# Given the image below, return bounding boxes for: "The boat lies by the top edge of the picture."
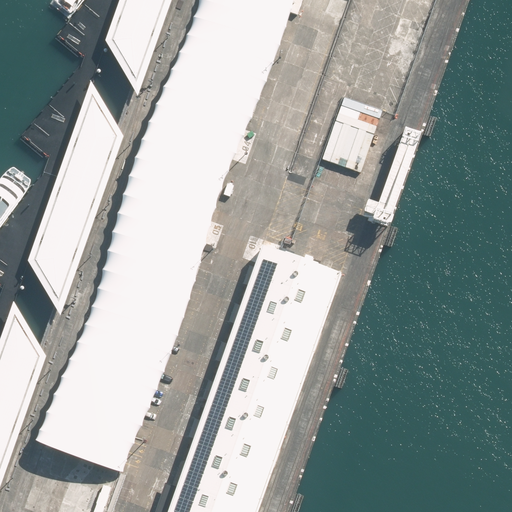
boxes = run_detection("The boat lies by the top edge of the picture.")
[49,0,84,20]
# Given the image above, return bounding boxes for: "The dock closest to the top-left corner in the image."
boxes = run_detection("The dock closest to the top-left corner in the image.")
[0,0,120,340]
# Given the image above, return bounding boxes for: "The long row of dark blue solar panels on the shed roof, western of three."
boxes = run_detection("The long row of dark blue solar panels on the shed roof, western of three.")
[170,260,268,512]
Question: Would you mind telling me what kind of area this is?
port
